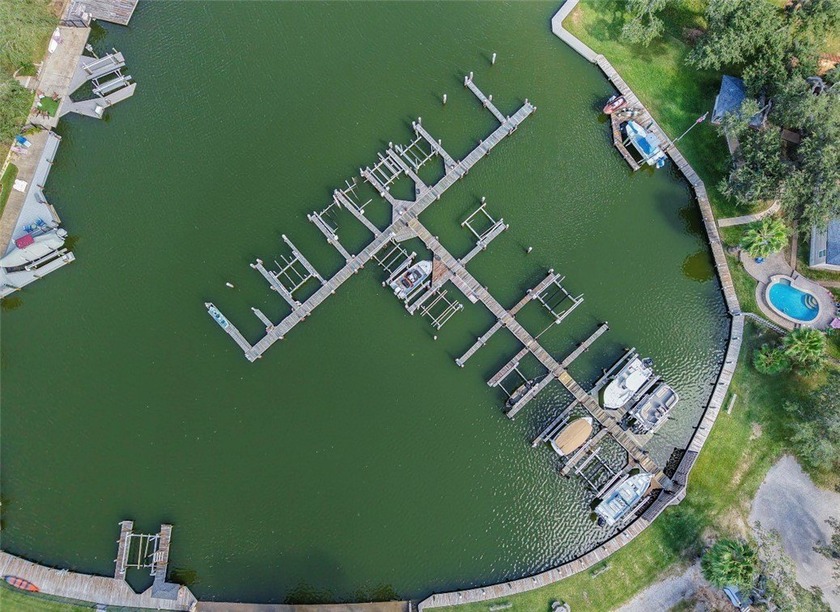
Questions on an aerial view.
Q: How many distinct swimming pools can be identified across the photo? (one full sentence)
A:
The photo contains exactly 1 swimming pool.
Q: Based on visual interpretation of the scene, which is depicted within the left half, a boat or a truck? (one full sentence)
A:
There is a boat within the left half.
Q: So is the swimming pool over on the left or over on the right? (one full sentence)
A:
The swimming pool appears in the right half of the scene.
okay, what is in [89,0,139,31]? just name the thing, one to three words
pier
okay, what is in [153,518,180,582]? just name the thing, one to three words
pier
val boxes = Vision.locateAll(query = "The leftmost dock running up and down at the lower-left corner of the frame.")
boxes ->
[113,517,140,580]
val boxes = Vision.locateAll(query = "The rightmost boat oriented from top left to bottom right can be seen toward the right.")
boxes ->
[627,121,667,170]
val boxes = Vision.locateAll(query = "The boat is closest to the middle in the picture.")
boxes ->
[391,263,432,299]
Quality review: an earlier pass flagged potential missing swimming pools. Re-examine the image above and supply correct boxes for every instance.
[765,276,823,327]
